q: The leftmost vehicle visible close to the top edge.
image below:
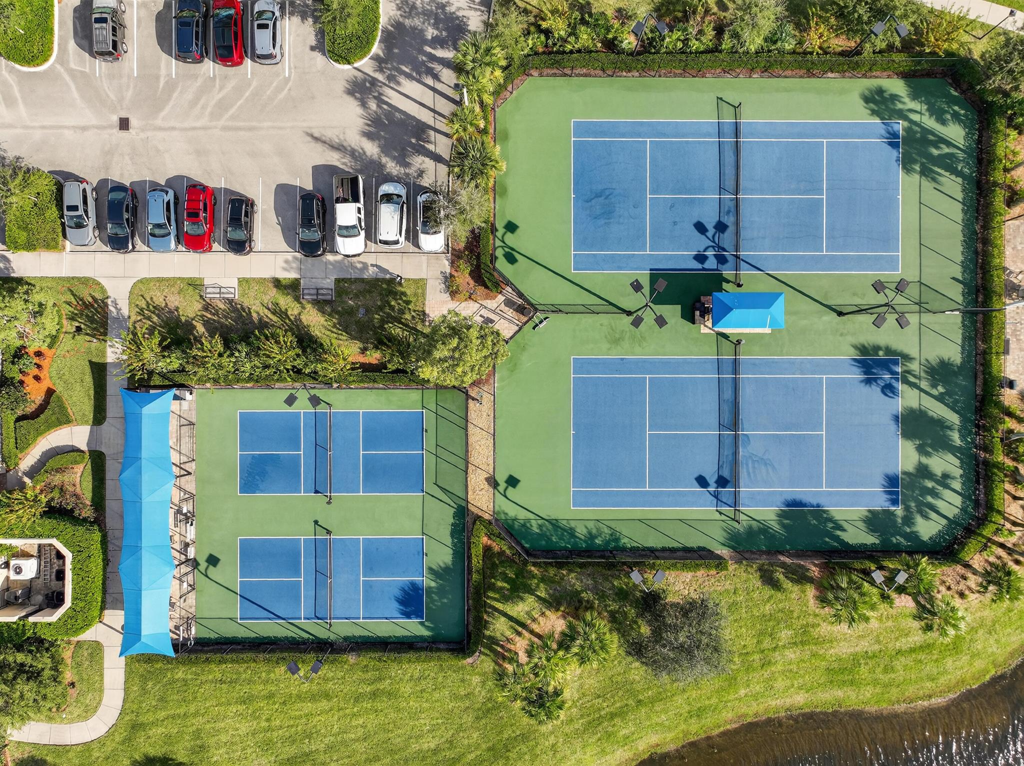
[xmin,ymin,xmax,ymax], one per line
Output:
[92,0,129,66]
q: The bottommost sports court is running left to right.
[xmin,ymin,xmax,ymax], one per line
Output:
[196,516,466,644]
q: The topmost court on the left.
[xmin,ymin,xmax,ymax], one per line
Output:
[196,389,466,516]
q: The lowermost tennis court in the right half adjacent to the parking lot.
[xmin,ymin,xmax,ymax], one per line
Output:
[495,313,976,550]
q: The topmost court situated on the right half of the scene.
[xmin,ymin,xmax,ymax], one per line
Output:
[495,78,976,313]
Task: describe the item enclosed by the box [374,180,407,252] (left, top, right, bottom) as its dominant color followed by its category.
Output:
white car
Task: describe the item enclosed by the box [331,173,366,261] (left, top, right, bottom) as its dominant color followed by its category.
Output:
white truck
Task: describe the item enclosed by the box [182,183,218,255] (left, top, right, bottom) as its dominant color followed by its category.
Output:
red car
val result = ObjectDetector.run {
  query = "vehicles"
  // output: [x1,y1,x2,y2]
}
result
[374,180,407,252]
[251,0,285,68]
[61,177,99,248]
[211,0,247,70]
[92,0,129,66]
[145,185,181,255]
[225,194,259,259]
[415,188,447,256]
[331,173,366,261]
[294,191,327,261]
[182,183,218,255]
[174,0,210,67]
[104,183,141,256]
